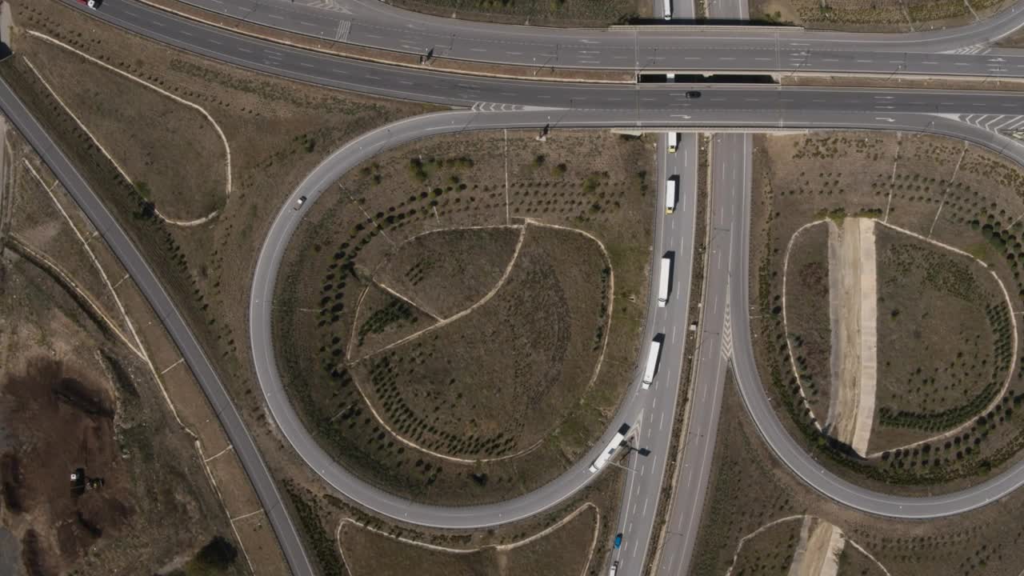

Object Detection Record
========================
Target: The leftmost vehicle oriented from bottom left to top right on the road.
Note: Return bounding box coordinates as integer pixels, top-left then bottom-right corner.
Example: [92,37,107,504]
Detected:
[293,195,306,211]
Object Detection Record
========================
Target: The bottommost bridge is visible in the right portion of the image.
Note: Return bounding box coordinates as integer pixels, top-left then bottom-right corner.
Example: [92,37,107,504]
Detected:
[610,83,809,135]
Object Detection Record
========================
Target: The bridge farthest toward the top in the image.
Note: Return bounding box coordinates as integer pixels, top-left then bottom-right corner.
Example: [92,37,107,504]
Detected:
[608,26,806,79]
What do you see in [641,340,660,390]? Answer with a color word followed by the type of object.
white vehicle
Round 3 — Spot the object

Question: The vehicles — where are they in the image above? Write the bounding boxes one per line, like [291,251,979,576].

[70,473,81,495]
[641,340,660,390]
[609,562,617,576]
[658,258,669,307]
[665,180,675,221]
[686,92,701,98]
[662,0,672,21]
[68,0,99,12]
[667,74,676,83]
[614,535,622,549]
[667,132,676,154]
[293,195,306,211]
[589,431,623,473]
